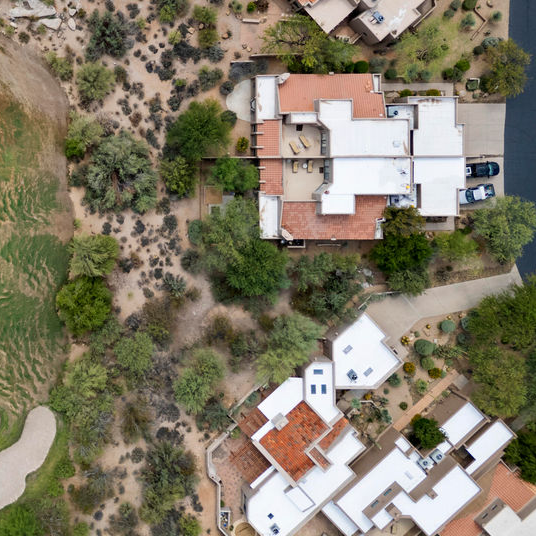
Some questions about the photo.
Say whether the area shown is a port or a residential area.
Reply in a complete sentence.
This image shows a residential area.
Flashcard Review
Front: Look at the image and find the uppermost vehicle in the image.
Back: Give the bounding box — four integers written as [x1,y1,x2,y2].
[465,160,501,179]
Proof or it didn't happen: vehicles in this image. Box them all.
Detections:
[465,160,501,179]
[459,183,498,205]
